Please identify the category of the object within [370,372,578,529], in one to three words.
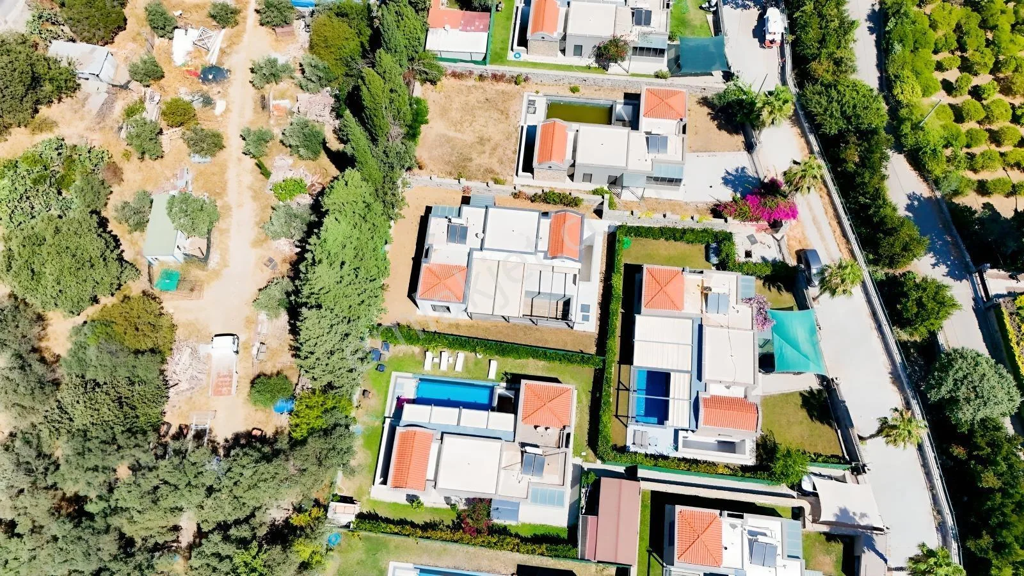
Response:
house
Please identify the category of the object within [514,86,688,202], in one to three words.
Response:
house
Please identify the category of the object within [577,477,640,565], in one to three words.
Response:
shed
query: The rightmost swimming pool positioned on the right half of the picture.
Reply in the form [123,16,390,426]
[630,366,685,430]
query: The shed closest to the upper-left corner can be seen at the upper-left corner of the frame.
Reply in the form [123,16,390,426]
[49,40,117,94]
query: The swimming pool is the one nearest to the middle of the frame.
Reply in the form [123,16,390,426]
[411,374,497,414]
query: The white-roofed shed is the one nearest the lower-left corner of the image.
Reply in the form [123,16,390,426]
[327,502,362,526]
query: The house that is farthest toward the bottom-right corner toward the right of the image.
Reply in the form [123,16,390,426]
[660,503,802,576]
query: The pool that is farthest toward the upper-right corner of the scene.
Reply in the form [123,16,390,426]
[544,100,616,126]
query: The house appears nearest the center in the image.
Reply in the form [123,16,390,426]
[417,194,606,337]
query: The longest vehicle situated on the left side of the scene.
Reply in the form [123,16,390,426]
[206,334,240,398]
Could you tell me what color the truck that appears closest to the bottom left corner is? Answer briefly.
white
